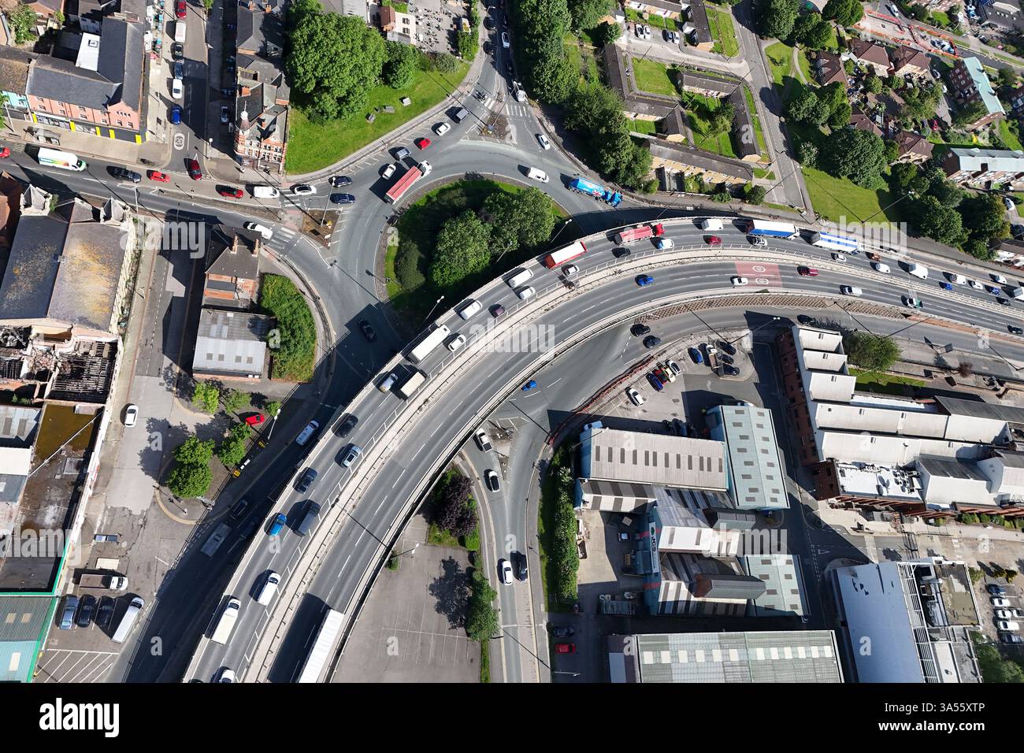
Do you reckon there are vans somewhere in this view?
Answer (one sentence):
Yes, the photo shows a van.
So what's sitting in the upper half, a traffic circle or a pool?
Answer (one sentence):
What appears in the upper half is a traffic circle.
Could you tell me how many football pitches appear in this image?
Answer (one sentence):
I count no football pitches.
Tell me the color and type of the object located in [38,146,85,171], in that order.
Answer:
white vehicle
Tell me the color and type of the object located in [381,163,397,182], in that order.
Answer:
white car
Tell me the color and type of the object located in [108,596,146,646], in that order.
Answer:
white van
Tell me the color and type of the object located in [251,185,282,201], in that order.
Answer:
white vehicle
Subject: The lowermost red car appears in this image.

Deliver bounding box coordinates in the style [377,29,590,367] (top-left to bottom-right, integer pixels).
[554,642,575,654]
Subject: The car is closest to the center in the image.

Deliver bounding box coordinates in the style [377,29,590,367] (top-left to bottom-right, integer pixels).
[520,379,539,393]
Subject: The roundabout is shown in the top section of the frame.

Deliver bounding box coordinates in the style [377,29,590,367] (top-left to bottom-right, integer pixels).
[373,173,586,352]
